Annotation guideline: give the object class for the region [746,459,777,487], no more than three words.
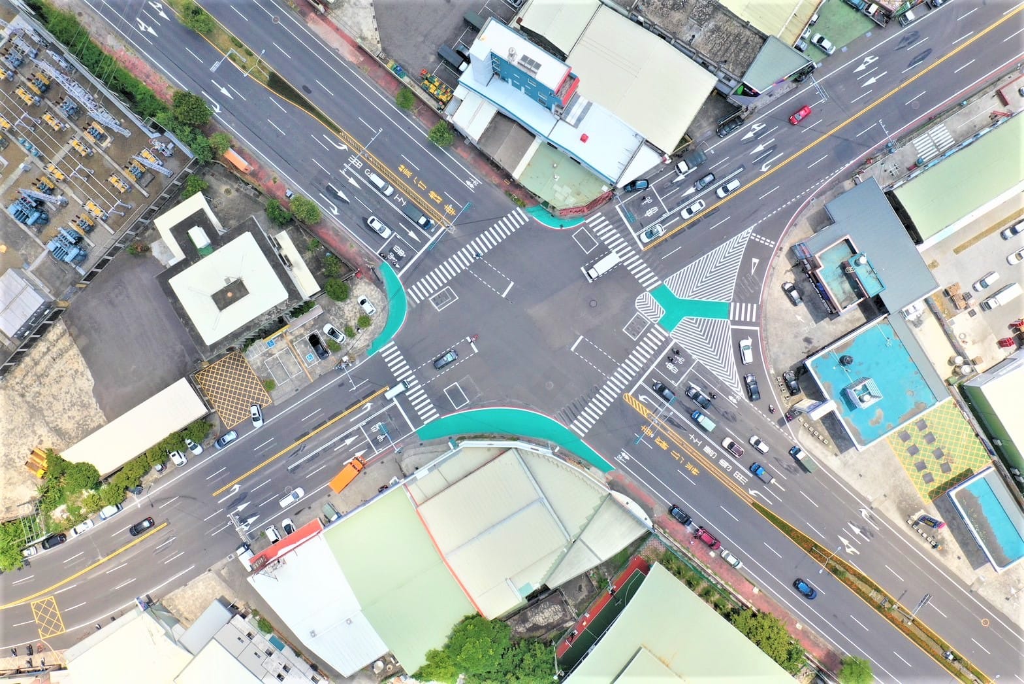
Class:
truck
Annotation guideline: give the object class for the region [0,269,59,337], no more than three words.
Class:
building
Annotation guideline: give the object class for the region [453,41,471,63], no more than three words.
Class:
car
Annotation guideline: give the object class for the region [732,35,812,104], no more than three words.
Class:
building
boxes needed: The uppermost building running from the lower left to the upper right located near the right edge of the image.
[883,105,1024,249]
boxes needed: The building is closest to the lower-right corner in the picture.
[944,465,1024,572]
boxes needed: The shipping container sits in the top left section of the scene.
[221,146,254,175]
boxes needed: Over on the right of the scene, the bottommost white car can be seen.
[717,546,744,570]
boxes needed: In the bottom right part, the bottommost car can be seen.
[792,577,816,599]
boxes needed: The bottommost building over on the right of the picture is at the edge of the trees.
[566,561,802,684]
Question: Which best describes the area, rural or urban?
urban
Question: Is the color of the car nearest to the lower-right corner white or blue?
blue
